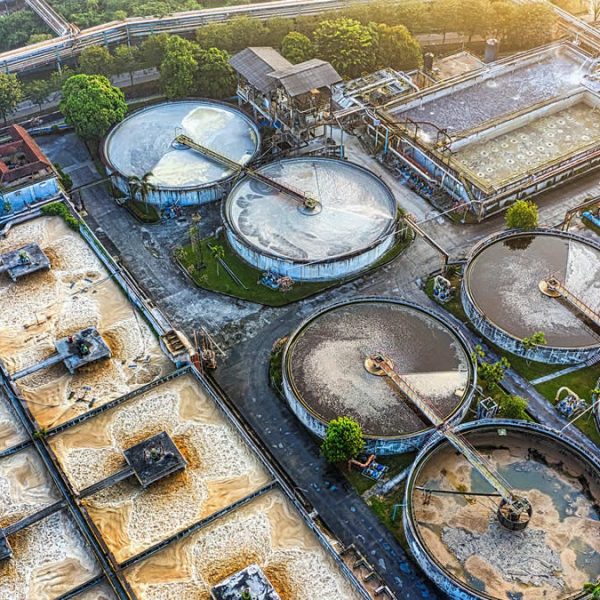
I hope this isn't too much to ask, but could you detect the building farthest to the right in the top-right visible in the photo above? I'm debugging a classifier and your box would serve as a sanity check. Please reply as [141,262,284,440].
[432,47,488,81]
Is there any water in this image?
Yes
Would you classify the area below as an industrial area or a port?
industrial area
